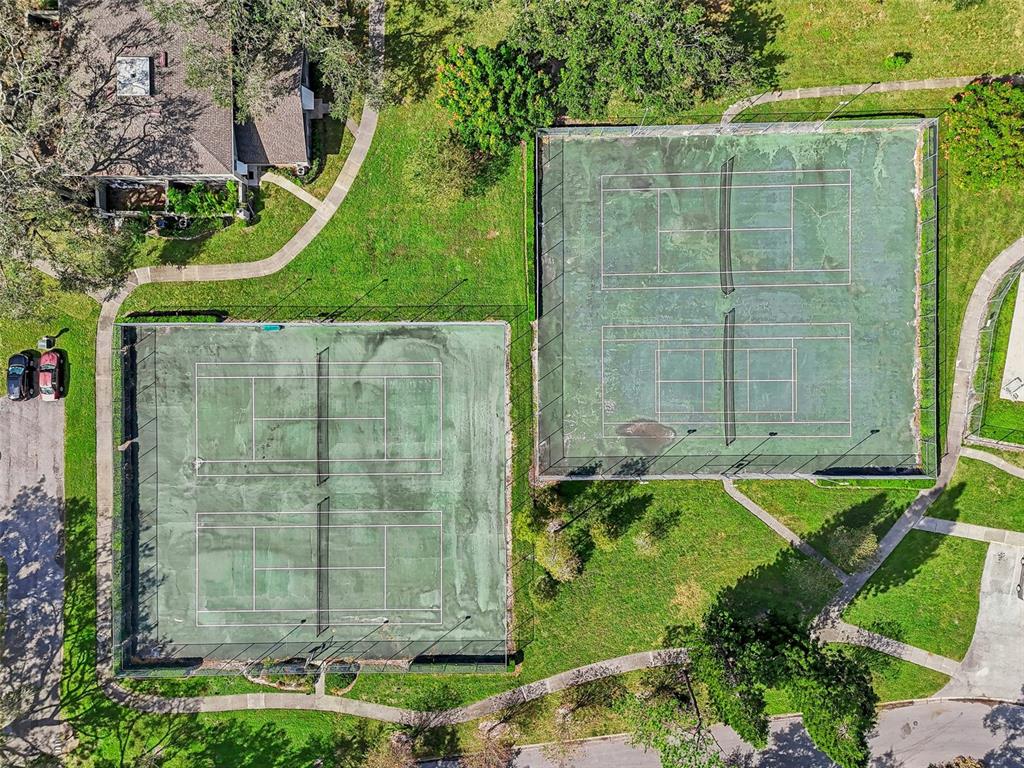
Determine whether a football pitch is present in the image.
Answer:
No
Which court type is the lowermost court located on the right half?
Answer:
tennis court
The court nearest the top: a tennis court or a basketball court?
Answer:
tennis court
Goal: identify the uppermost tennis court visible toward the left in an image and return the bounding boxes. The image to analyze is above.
[131,323,507,496]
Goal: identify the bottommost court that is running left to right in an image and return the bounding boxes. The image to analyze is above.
[131,493,508,661]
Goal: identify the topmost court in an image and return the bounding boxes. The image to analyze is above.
[538,129,917,307]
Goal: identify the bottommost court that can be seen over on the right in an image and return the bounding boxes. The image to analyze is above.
[538,303,917,475]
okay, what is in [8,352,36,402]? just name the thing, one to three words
car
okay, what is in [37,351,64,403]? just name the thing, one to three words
car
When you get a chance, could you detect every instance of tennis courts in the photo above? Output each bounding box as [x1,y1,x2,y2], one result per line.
[538,303,917,475]
[538,129,917,307]
[131,493,508,661]
[131,323,507,496]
